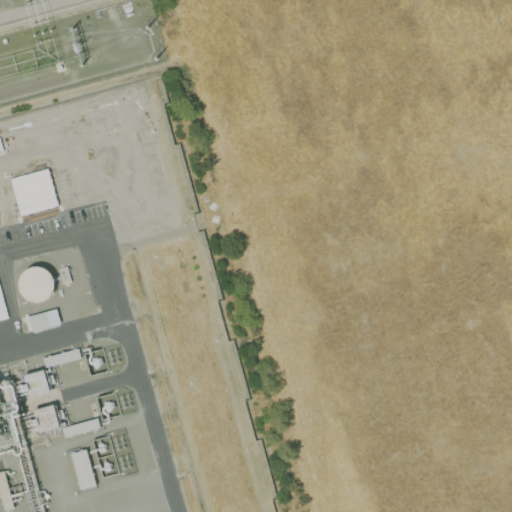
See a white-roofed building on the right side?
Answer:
No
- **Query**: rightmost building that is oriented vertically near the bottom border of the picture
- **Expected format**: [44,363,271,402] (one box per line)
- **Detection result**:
[71,450,96,491]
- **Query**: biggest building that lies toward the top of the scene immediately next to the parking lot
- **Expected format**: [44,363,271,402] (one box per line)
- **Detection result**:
[12,164,60,221]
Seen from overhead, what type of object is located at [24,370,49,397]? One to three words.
building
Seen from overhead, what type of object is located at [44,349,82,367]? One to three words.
building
